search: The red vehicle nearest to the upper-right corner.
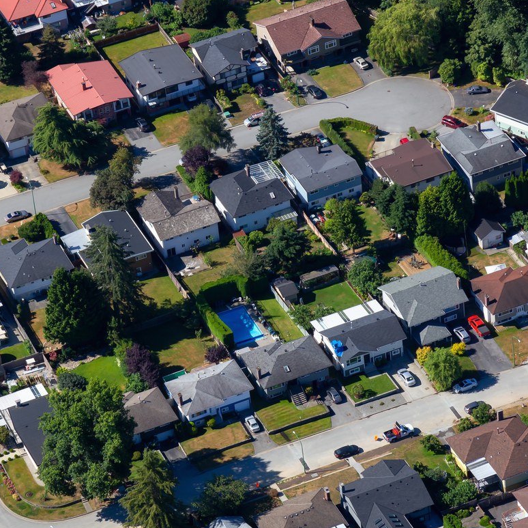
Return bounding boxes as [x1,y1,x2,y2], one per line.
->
[441,115,467,128]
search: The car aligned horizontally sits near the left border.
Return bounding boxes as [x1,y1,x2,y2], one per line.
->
[3,210,30,224]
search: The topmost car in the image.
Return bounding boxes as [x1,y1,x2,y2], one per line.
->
[352,55,369,70]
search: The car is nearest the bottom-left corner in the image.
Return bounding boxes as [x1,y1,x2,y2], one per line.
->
[243,414,262,433]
